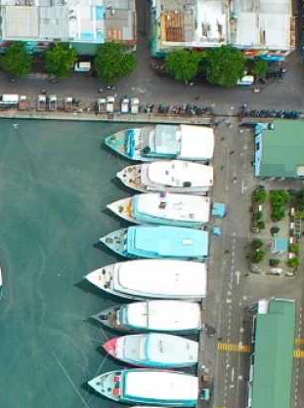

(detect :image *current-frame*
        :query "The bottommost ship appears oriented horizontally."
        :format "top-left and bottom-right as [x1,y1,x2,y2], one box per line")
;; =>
[89,367,203,405]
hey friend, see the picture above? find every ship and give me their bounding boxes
[118,158,218,194]
[108,190,213,228]
[87,258,213,300]
[101,225,212,259]
[93,299,206,334]
[104,330,203,366]
[106,121,219,160]
[89,367,203,405]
